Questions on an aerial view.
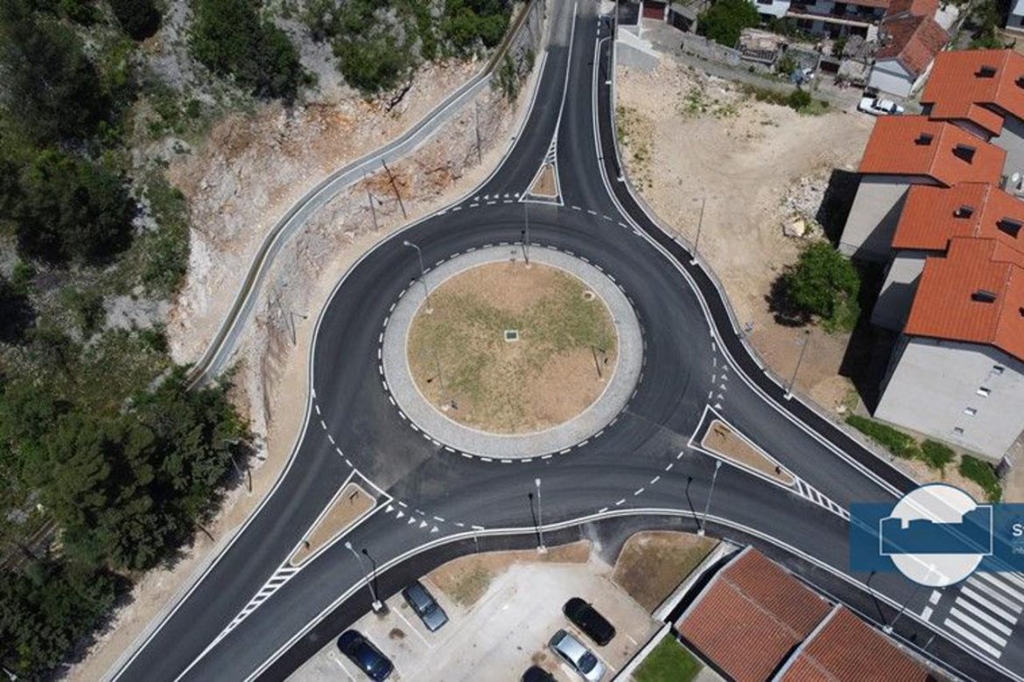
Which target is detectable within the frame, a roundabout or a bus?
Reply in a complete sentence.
Of the two, only a roundabout appears.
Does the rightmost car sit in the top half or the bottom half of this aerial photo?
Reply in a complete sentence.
It is in the top half that the rightmost car appears.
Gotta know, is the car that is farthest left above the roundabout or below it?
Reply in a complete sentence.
The position of the car that is farthest left is below the roundabout.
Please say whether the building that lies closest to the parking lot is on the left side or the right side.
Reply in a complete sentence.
It is on the right.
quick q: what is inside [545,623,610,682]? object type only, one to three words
car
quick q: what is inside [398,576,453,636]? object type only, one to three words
car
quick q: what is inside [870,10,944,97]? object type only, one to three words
house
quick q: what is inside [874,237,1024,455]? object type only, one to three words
house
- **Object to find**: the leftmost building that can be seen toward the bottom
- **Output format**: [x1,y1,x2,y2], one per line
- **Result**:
[677,544,833,682]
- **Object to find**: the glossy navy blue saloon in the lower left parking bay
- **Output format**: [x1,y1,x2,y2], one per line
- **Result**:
[332,626,396,682]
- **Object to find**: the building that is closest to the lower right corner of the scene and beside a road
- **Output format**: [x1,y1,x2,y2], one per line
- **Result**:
[780,603,948,682]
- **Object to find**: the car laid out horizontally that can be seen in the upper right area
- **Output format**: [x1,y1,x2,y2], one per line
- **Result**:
[856,94,907,116]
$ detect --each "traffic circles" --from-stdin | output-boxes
[311,192,729,533]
